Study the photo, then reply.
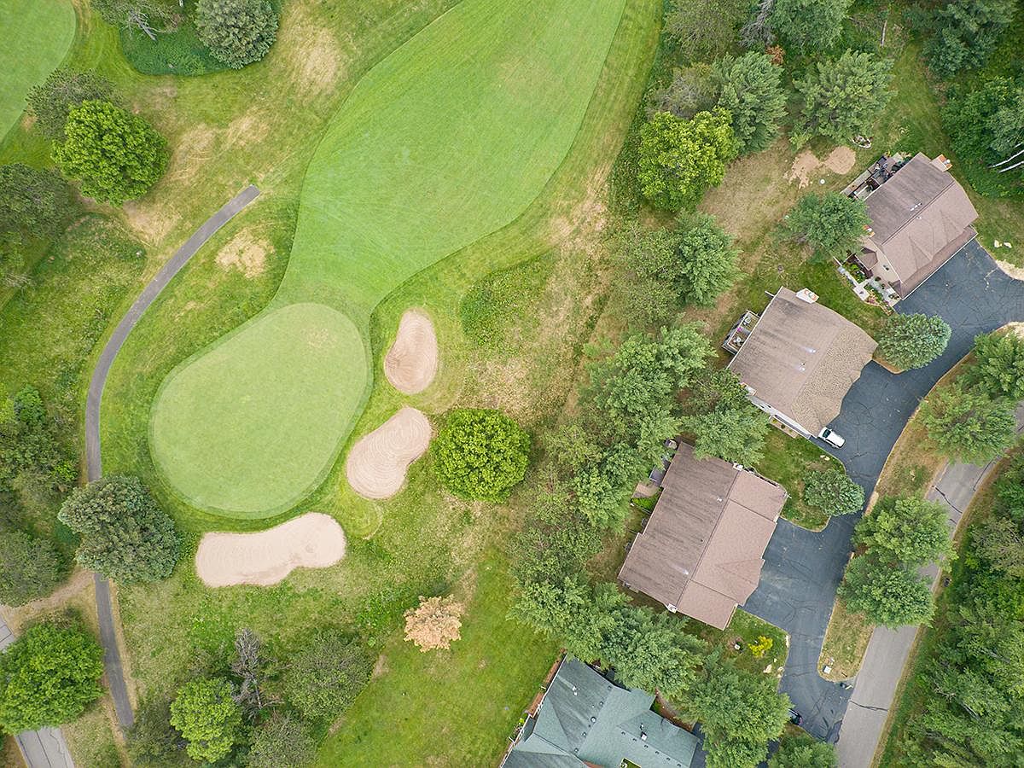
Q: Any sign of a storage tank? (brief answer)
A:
No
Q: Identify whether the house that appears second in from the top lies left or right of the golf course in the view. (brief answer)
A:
on the right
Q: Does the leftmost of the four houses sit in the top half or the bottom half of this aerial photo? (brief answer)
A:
bottom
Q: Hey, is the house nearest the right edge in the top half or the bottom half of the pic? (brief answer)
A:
top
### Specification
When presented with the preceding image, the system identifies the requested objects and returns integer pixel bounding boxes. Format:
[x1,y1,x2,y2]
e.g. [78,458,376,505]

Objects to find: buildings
[617,441,787,630]
[841,152,979,300]
[502,651,699,768]
[721,286,876,437]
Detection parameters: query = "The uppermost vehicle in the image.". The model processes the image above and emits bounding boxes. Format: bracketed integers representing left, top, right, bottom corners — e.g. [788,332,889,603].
[817,428,845,450]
